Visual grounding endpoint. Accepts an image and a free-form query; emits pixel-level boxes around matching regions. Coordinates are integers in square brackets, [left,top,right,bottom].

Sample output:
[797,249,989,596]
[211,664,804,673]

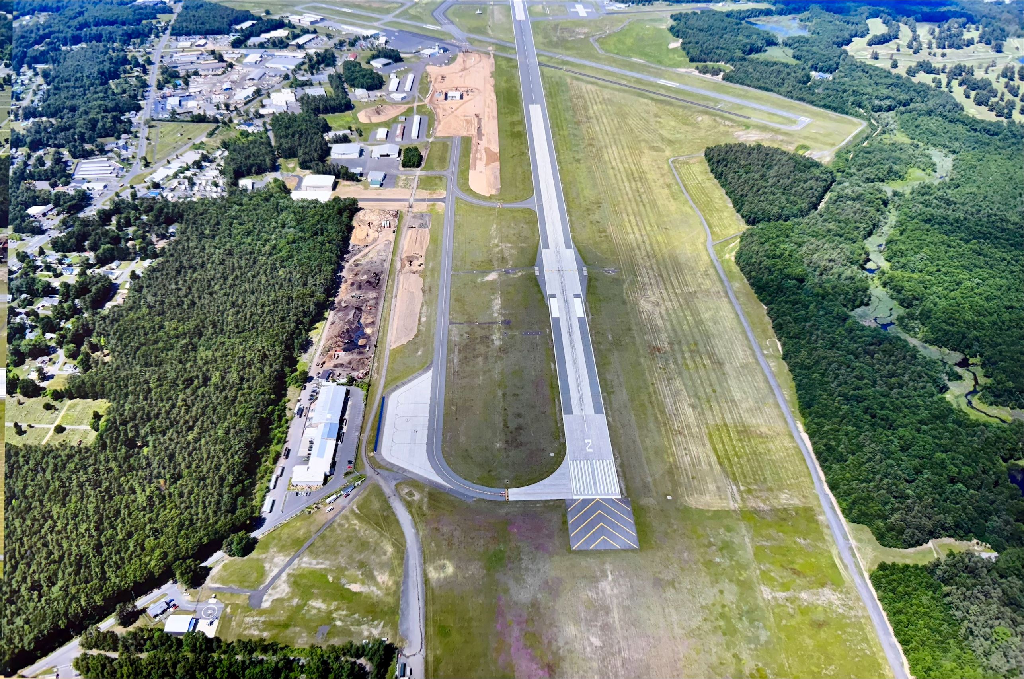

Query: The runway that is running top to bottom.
[510,0,621,498]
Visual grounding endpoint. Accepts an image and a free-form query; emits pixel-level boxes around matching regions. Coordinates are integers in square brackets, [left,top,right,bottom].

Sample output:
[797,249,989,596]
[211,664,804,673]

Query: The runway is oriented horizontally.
[315,3,805,121]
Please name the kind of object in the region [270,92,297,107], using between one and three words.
building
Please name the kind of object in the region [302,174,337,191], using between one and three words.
hangar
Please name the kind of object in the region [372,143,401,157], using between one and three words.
hangar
